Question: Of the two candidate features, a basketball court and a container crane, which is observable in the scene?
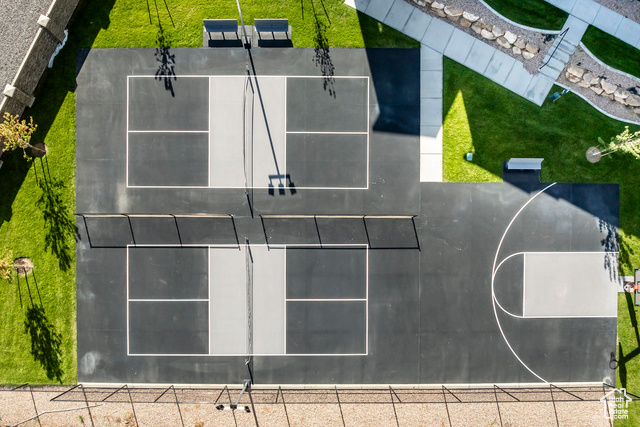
basketball court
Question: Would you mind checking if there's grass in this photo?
Yes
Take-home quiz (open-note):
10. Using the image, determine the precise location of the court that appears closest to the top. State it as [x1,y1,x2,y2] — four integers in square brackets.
[127,76,369,189]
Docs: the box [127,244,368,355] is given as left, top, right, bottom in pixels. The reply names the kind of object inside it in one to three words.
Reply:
sports court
